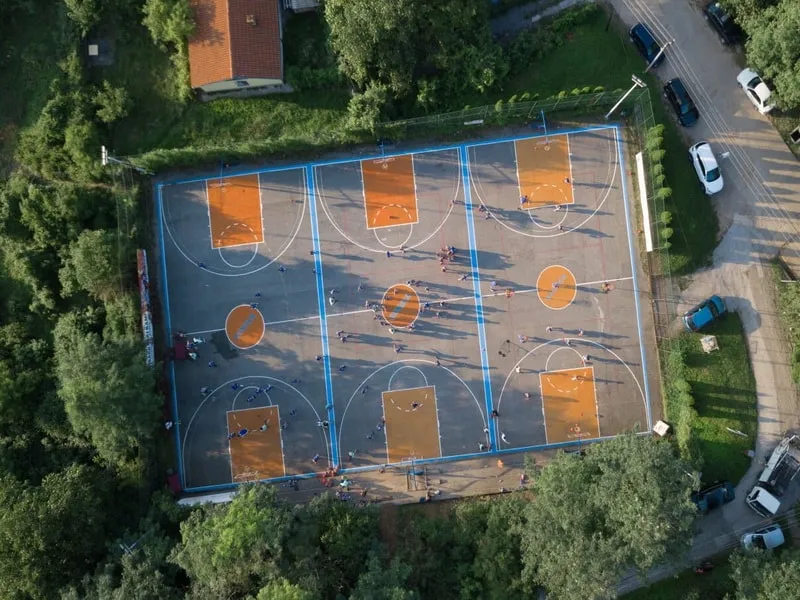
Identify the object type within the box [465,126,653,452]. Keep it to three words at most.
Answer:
basketball court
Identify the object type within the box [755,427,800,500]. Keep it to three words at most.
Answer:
trailer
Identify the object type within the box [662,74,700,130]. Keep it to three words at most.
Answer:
car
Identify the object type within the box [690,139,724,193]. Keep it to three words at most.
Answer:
car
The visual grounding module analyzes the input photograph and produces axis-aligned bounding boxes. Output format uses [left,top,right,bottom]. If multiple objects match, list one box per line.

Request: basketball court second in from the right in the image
[310,145,496,473]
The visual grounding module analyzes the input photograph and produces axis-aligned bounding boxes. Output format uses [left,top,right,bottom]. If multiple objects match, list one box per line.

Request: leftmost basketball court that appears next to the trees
[155,164,339,491]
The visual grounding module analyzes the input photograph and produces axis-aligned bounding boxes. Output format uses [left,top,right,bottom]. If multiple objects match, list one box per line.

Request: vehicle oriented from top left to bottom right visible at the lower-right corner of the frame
[735,481,788,522]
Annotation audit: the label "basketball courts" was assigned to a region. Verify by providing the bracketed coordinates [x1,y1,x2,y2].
[155,164,339,491]
[465,126,653,452]
[310,145,496,473]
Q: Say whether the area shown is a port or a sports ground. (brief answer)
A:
sports ground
